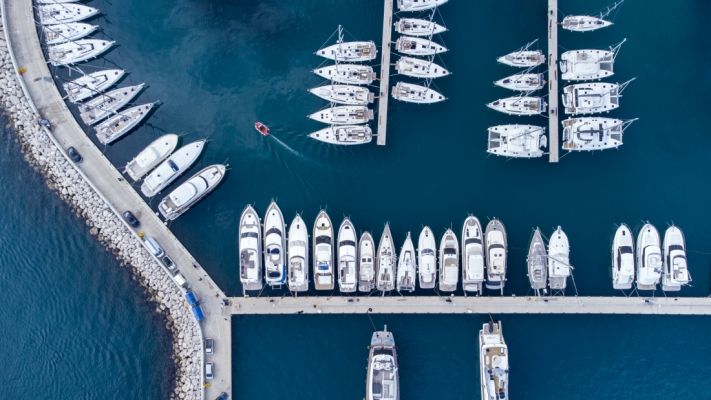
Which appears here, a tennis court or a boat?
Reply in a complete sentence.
Looking from above, you can make out a boat.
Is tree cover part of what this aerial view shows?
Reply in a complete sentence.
No, tree cover can't be seen anywhere here.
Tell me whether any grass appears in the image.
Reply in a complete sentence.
No, grass can't be seen anywhere here.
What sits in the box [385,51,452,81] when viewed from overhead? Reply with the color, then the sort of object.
white boat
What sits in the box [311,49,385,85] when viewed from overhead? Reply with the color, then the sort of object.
white boat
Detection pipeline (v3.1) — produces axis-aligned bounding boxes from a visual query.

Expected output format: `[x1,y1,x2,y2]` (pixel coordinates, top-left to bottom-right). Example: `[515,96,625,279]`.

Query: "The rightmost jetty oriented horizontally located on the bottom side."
[231,294,711,316]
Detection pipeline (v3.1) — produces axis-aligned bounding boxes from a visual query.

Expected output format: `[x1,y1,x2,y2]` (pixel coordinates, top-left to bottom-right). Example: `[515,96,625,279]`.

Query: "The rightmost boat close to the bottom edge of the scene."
[478,315,509,400]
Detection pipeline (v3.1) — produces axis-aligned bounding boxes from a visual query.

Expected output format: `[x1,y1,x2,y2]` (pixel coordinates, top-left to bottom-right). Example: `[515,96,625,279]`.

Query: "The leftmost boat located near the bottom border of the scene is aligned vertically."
[364,315,399,400]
